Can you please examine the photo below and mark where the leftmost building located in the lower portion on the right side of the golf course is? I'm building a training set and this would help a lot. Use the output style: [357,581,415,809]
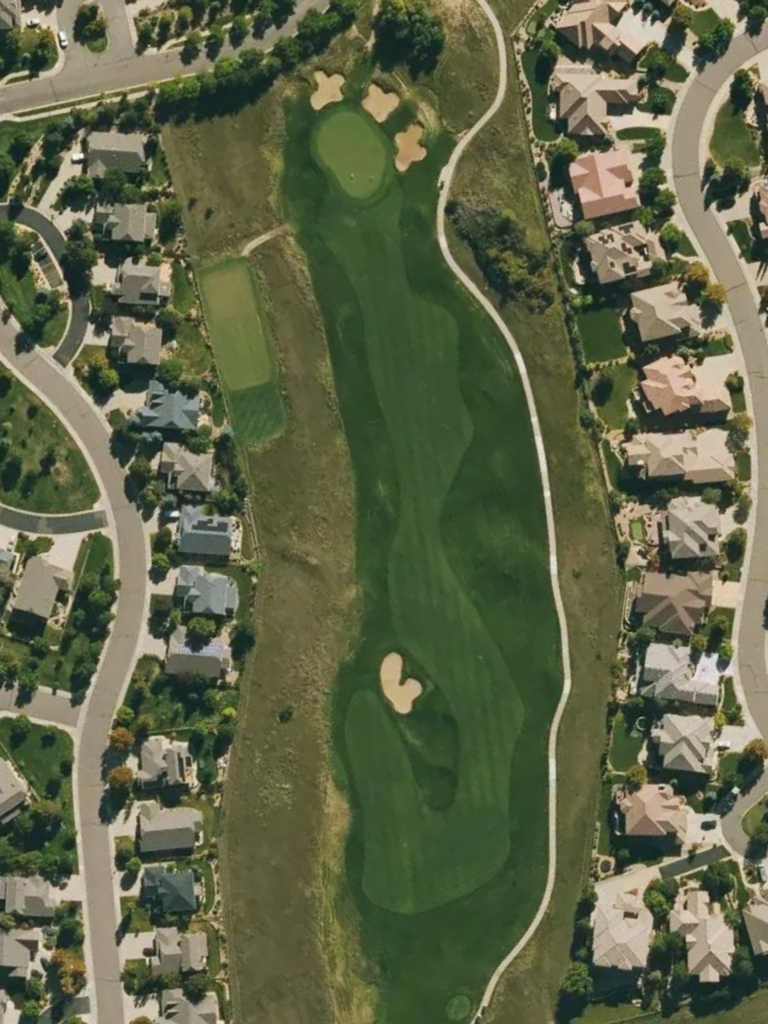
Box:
[592,875,655,970]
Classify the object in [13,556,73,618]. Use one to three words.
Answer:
house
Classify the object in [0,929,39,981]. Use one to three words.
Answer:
house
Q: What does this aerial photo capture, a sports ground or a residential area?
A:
residential area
